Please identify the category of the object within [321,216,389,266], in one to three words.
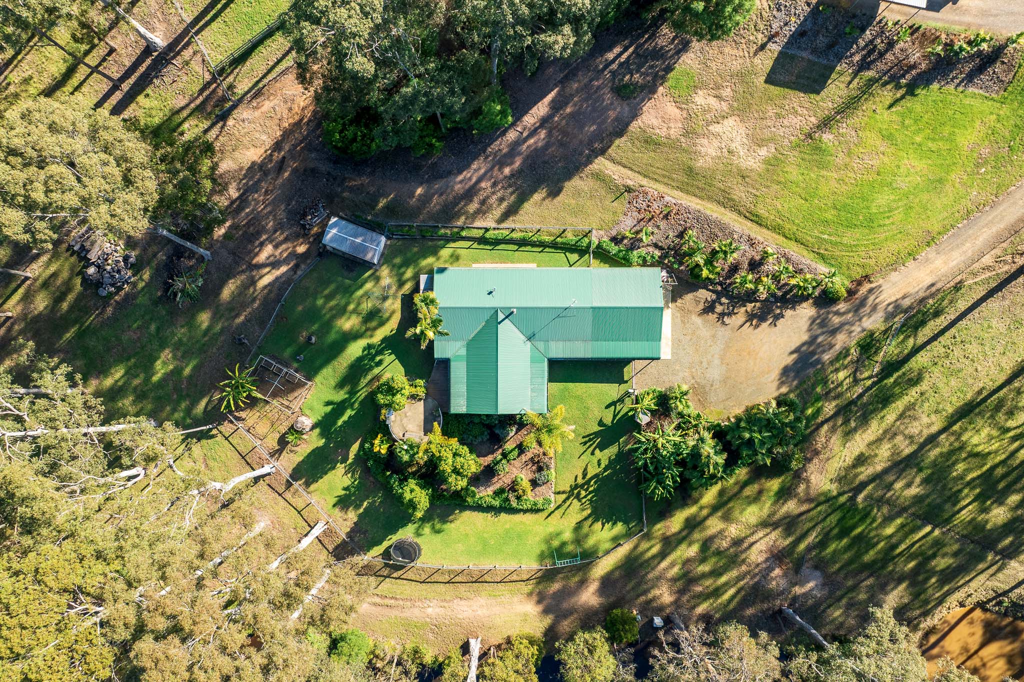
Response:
shed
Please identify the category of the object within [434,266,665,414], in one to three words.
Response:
house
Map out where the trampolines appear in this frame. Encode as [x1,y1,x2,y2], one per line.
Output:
[390,533,425,570]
